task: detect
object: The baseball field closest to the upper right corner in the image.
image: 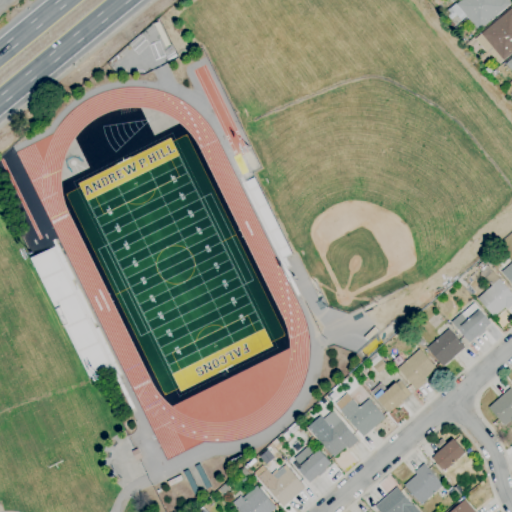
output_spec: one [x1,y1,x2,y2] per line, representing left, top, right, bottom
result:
[246,78,512,311]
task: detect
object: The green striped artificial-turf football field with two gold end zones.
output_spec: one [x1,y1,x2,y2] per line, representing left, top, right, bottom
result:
[66,133,285,396]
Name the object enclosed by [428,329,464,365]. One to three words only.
house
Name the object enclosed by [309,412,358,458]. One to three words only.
house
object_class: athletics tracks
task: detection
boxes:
[17,86,310,458]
